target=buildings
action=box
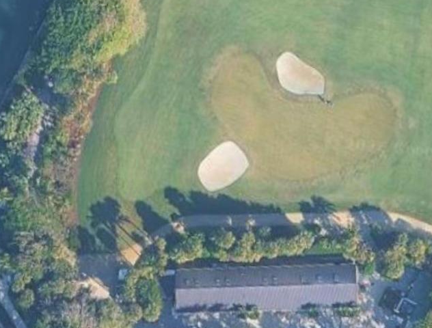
[173,264,357,313]
[379,285,413,319]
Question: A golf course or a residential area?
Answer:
golf course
